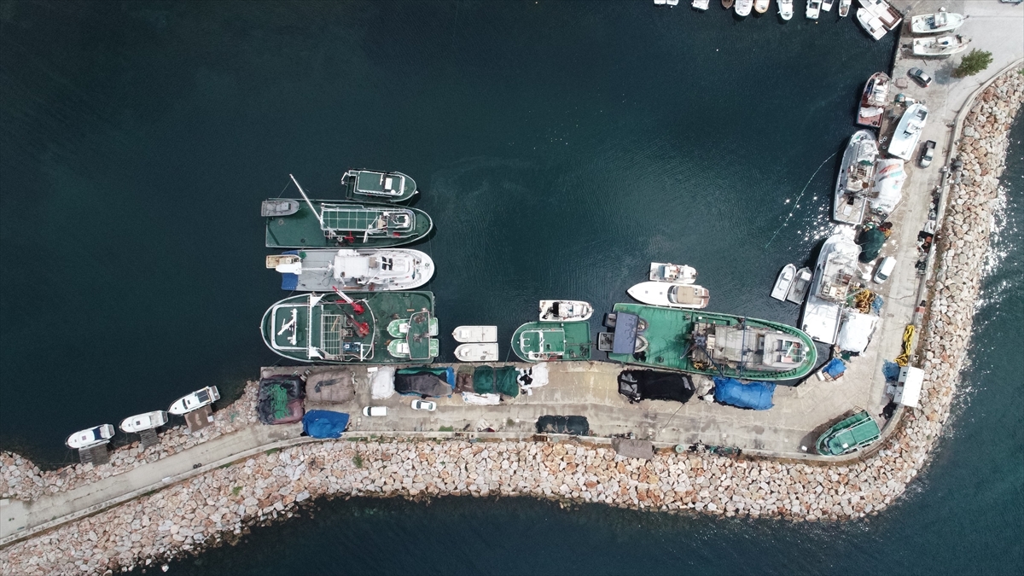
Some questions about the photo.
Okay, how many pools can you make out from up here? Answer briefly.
0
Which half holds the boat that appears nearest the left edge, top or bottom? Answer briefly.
bottom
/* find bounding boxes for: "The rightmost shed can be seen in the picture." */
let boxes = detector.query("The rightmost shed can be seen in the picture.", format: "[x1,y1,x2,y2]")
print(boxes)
[892,366,924,407]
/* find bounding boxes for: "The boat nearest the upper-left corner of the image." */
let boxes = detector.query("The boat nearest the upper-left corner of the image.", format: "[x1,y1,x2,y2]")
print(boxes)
[261,200,300,216]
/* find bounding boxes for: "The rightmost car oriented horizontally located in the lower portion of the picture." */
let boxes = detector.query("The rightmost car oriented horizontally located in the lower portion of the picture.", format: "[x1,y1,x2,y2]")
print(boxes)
[411,398,437,410]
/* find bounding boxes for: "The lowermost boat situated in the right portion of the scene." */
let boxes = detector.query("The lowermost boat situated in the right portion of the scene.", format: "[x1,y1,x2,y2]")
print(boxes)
[816,406,880,454]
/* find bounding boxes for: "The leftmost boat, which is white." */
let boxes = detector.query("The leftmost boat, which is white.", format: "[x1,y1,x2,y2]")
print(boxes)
[64,420,123,449]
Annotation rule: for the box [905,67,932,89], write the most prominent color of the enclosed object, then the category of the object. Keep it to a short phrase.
gray car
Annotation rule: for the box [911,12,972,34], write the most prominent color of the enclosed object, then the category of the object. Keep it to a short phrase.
white boat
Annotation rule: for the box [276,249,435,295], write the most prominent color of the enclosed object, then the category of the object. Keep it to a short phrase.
white boat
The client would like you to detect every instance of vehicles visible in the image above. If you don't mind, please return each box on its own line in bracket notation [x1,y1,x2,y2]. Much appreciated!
[905,67,932,89]
[411,398,437,410]
[918,140,937,169]
[363,405,389,417]
[873,256,898,284]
